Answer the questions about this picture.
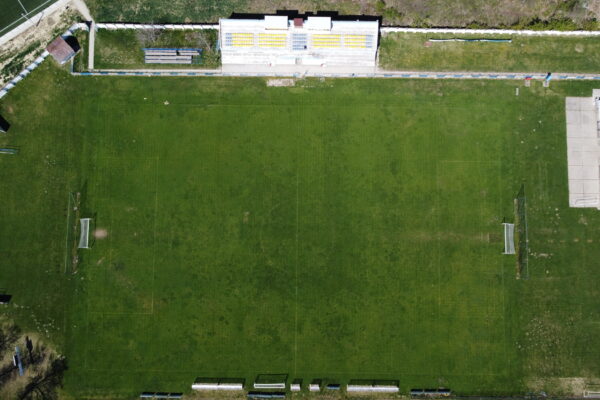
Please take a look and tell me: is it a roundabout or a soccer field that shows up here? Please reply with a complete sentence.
There is a soccer field in the scene.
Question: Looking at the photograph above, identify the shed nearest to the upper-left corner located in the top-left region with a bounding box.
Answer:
[47,36,78,66]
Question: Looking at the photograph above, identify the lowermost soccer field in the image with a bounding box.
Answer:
[62,90,521,391]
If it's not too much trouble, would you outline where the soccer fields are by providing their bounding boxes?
[0,0,68,46]
[62,90,521,391]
